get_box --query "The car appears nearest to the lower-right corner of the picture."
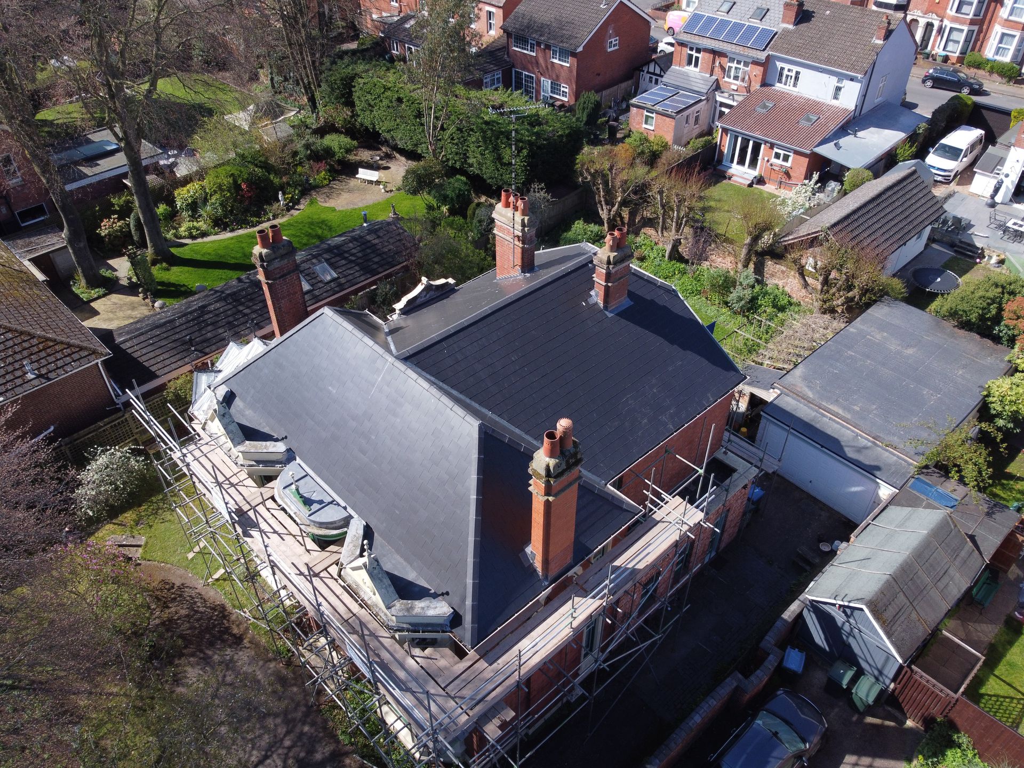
[711,685,840,768]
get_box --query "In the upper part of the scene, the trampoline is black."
[908,264,967,301]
